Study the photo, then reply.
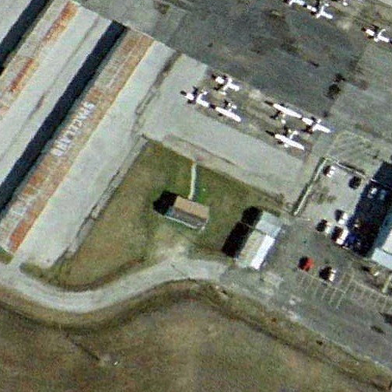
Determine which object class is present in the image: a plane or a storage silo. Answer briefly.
plane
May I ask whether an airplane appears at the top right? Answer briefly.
Yes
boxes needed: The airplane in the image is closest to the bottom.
[275,128,305,151]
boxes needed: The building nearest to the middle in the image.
[164,197,209,227]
